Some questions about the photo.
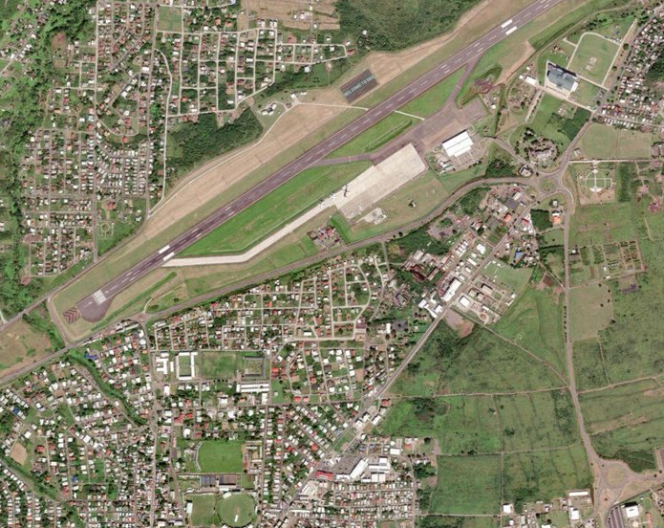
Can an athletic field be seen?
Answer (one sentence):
Yes, this view includes an athletic field.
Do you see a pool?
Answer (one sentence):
No, the frame has no pool in it.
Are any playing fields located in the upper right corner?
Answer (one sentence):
Yes, a playing field appears in the upper right corner.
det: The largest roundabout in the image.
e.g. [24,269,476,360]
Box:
[601,461,632,490]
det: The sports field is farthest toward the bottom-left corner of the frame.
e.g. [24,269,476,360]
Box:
[189,493,214,526]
